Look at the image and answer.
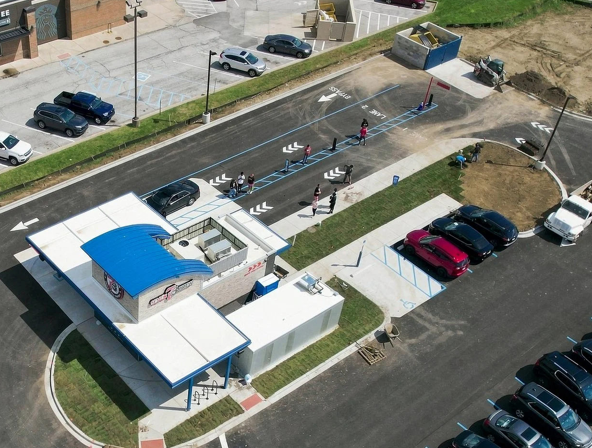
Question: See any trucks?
Yes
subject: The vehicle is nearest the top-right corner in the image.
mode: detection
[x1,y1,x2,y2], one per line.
[475,57,516,94]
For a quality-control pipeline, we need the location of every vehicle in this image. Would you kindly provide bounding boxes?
[476,401,560,448]
[55,91,118,124]
[402,229,472,278]
[506,375,592,448]
[143,179,202,217]
[454,199,520,243]
[562,332,592,369]
[430,212,499,259]
[0,129,33,164]
[263,33,314,57]
[445,422,505,448]
[386,0,427,8]
[475,57,516,94]
[32,101,88,136]
[540,181,592,245]
[530,348,592,421]
[218,46,267,76]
